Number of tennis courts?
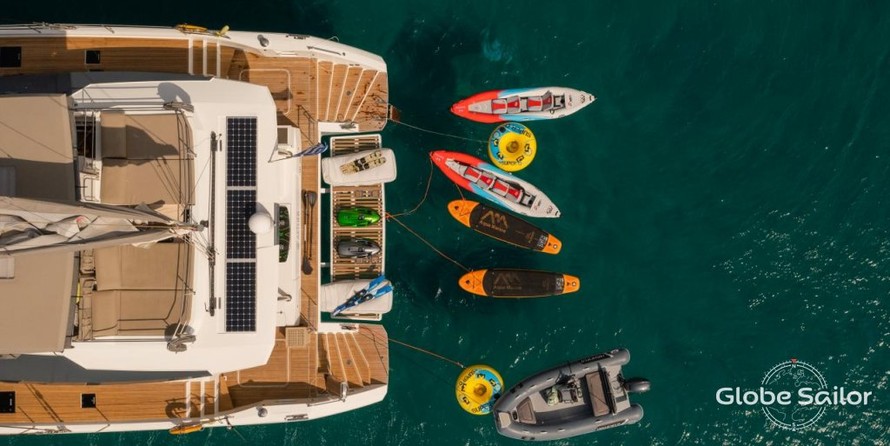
0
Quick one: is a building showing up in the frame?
No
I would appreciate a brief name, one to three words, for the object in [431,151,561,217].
boat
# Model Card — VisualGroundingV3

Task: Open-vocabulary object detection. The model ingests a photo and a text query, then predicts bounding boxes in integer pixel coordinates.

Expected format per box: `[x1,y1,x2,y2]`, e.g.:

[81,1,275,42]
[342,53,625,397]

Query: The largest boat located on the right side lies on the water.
[492,348,650,443]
